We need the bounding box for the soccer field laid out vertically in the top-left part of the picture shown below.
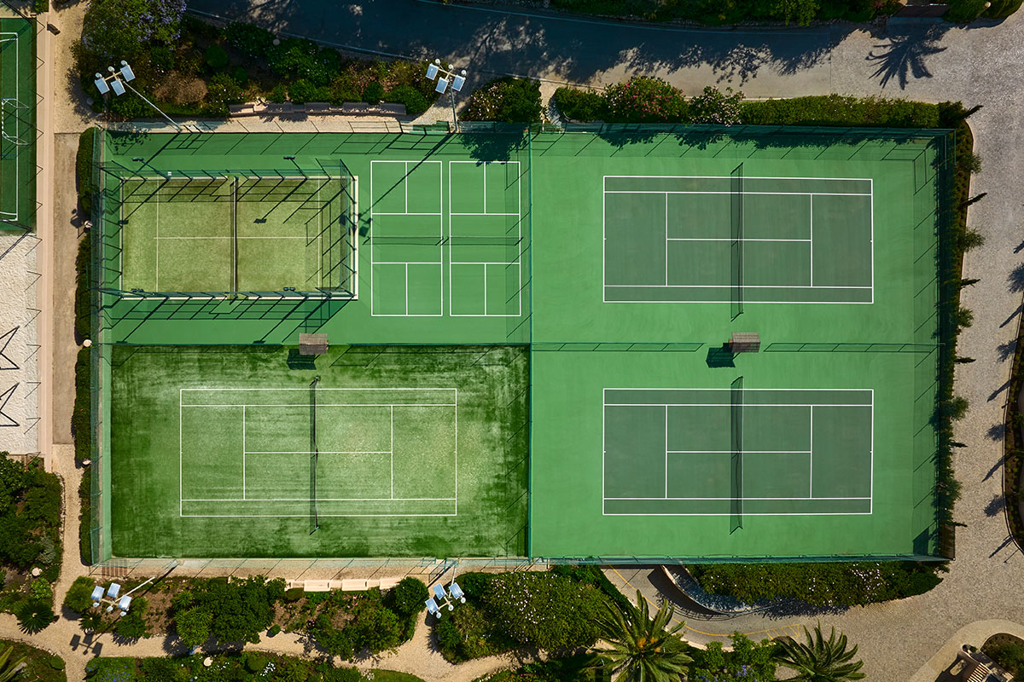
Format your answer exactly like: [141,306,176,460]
[0,17,36,232]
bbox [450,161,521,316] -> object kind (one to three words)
sports court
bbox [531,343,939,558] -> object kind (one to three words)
tennis court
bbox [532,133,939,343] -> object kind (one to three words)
tennis court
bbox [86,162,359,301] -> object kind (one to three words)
sports court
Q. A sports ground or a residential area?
sports ground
